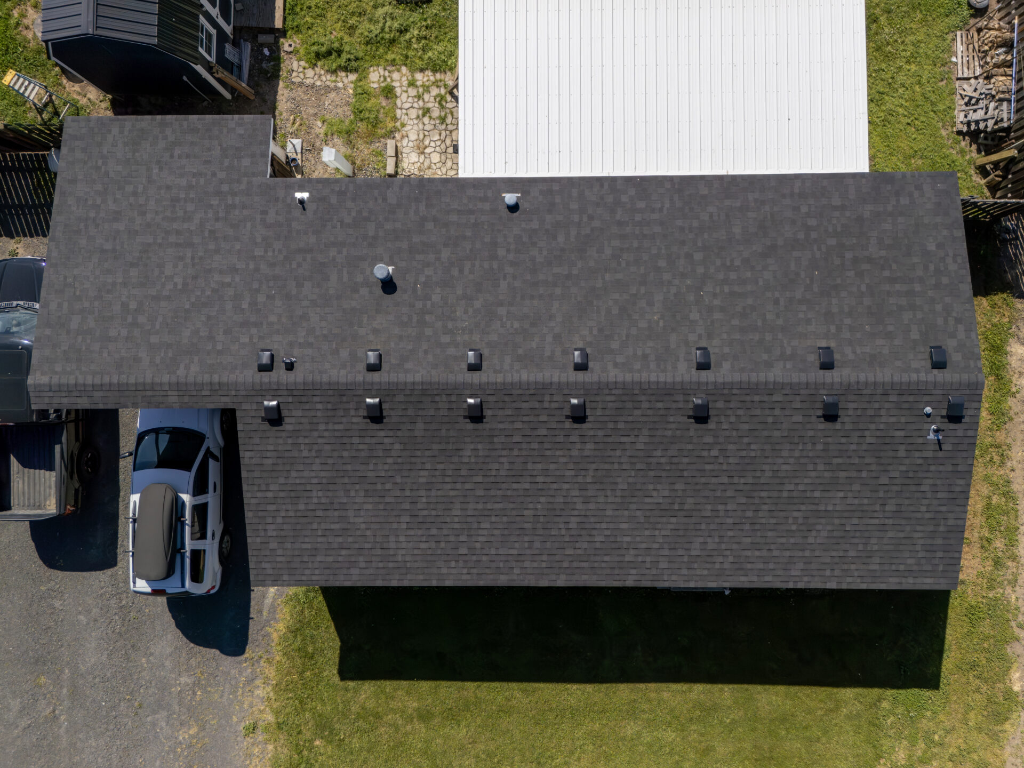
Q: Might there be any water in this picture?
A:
No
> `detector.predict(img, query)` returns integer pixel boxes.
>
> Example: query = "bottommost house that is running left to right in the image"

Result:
[26,114,988,589]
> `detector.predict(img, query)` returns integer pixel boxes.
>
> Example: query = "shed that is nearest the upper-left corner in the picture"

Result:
[49,0,232,98]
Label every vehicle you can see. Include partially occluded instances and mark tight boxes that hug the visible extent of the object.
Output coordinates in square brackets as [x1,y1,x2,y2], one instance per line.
[0,252,94,520]
[124,407,231,599]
